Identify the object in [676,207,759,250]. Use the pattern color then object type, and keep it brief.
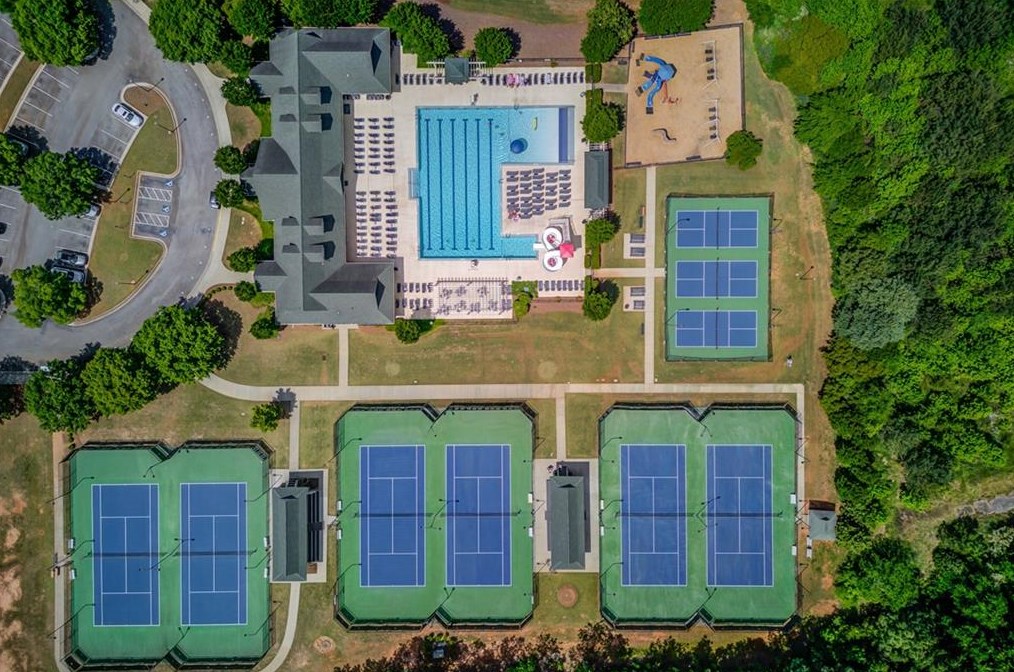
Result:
blue sports court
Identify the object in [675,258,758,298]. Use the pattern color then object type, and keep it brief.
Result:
blue sports court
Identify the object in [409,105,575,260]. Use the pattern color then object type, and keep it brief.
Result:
blue swimming pool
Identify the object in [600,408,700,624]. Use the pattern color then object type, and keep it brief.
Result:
green tennis court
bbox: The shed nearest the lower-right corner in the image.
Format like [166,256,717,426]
[804,507,836,540]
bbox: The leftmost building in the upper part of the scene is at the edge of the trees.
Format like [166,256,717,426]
[239,27,395,324]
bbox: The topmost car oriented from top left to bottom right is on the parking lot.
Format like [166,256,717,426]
[111,103,140,126]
